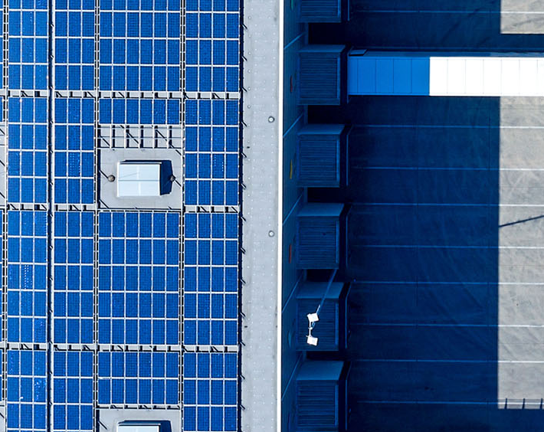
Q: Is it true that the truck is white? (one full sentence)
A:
Yes, the truck appears white.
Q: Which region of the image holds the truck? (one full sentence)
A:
You can find the truck in the top right area of the picture.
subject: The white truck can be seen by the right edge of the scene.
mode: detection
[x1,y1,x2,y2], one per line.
[346,52,544,97]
